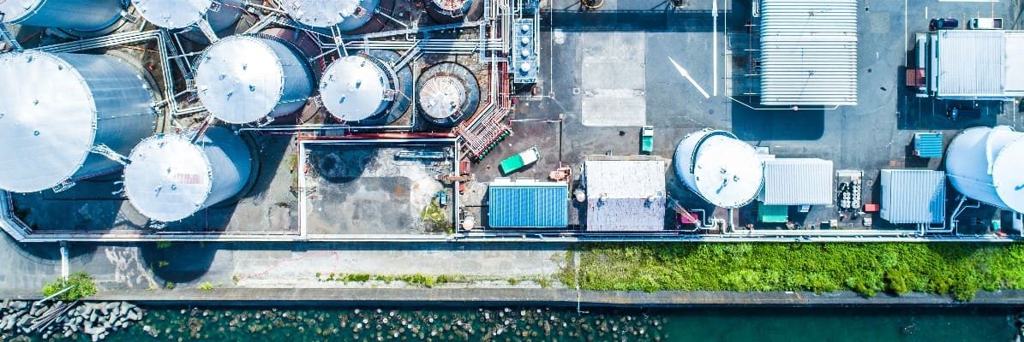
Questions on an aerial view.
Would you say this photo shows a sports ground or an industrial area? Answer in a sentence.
This image shows an industrial area.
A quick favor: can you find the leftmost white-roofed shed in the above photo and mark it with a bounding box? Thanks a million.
[584,155,668,231]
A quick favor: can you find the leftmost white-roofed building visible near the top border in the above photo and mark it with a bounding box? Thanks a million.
[753,0,857,105]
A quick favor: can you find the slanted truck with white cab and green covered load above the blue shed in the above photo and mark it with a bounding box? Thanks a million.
[499,145,540,175]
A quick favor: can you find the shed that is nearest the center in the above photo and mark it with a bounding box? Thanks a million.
[488,177,568,229]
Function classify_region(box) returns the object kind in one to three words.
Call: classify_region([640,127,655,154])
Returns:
vehicle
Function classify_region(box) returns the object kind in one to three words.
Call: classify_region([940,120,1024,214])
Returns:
storage tank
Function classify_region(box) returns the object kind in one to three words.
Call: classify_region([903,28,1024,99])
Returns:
building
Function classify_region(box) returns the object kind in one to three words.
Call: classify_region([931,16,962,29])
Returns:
vehicle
